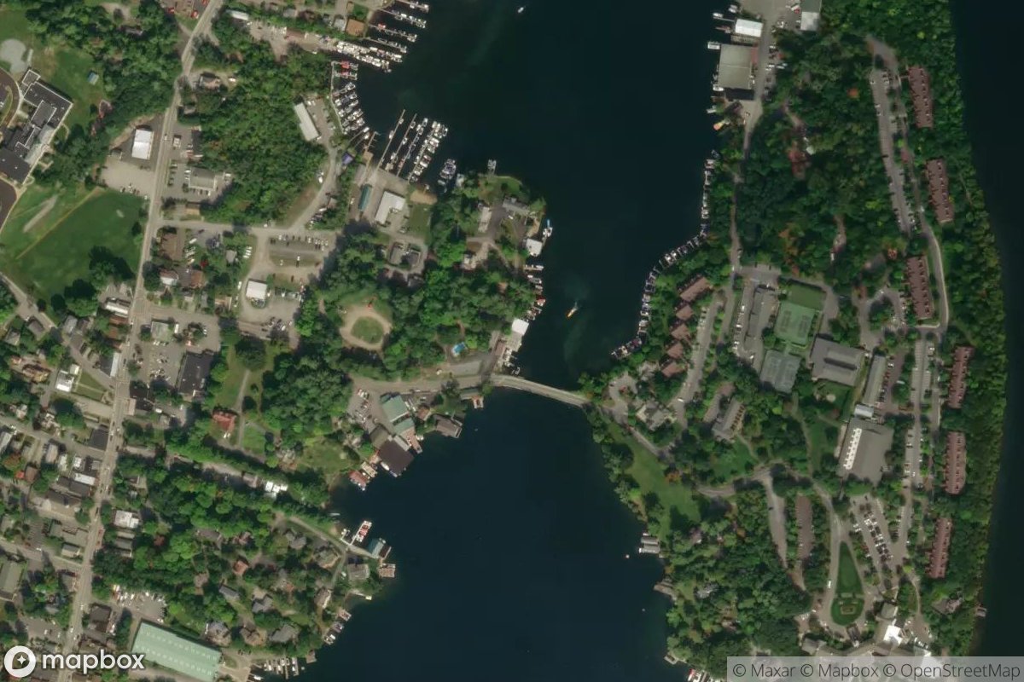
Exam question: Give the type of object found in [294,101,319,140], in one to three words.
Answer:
shed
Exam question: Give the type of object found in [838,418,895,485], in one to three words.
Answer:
building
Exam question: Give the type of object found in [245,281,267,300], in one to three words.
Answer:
barn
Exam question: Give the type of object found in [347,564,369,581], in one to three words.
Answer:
house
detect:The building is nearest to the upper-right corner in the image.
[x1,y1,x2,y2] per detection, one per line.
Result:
[908,66,936,129]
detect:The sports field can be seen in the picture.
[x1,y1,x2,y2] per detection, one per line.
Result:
[0,190,148,325]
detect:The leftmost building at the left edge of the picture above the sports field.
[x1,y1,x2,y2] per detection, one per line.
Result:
[0,69,72,184]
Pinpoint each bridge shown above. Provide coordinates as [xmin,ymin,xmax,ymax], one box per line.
[488,376,592,411]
